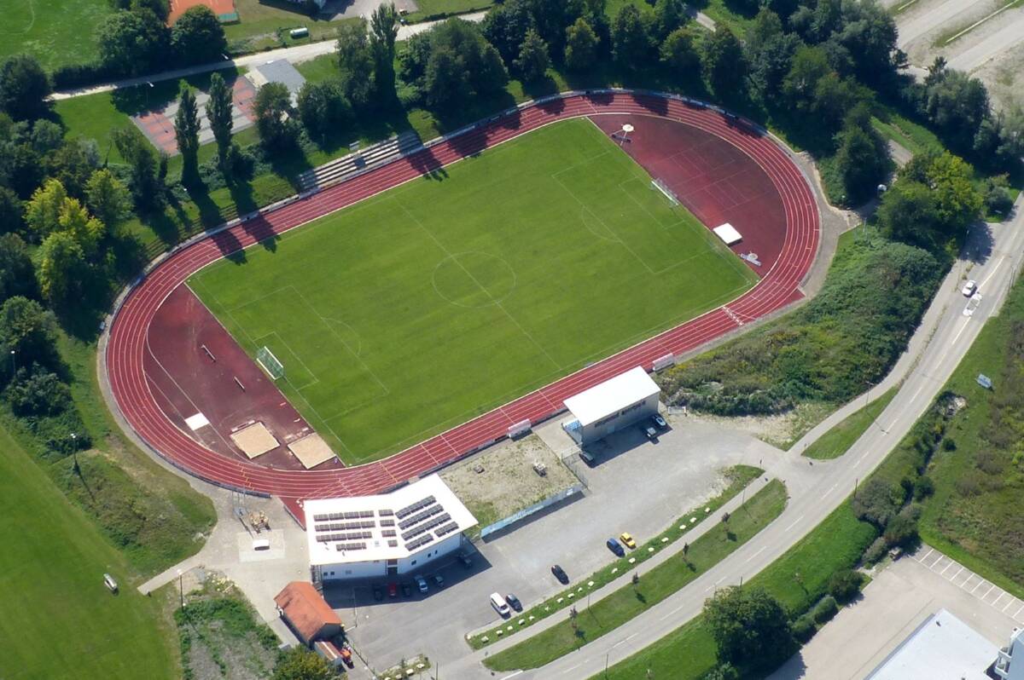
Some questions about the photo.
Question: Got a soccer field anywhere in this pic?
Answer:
Yes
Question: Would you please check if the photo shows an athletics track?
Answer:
Yes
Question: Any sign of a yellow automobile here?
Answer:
Yes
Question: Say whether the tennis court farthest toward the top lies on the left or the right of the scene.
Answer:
left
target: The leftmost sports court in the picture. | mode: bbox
[136,107,178,151]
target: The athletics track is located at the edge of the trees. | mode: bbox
[109,93,819,499]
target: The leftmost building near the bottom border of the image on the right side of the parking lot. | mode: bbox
[859,609,1000,680]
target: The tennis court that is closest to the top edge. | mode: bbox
[166,0,238,23]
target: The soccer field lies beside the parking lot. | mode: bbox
[185,115,761,466]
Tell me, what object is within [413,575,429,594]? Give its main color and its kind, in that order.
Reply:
blue car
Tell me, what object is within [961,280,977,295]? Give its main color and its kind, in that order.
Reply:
white car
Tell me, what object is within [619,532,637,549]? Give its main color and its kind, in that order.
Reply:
yellow car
